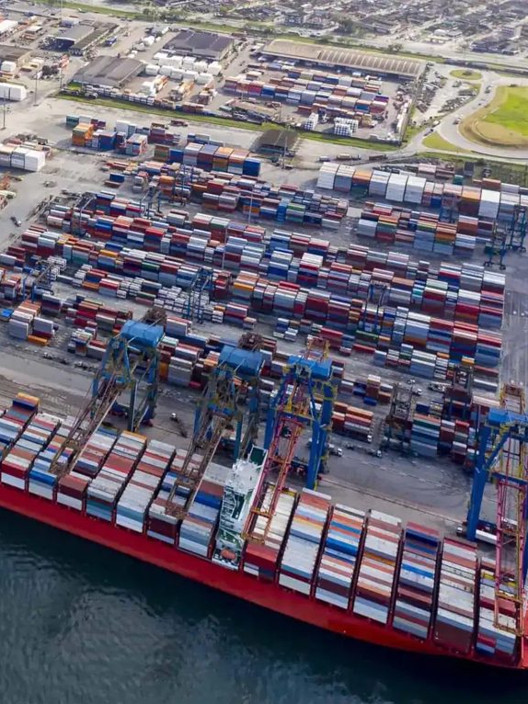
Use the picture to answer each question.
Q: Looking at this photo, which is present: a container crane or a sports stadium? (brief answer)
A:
container crane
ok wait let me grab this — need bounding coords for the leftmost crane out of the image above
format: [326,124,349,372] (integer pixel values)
[22,248,55,294]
